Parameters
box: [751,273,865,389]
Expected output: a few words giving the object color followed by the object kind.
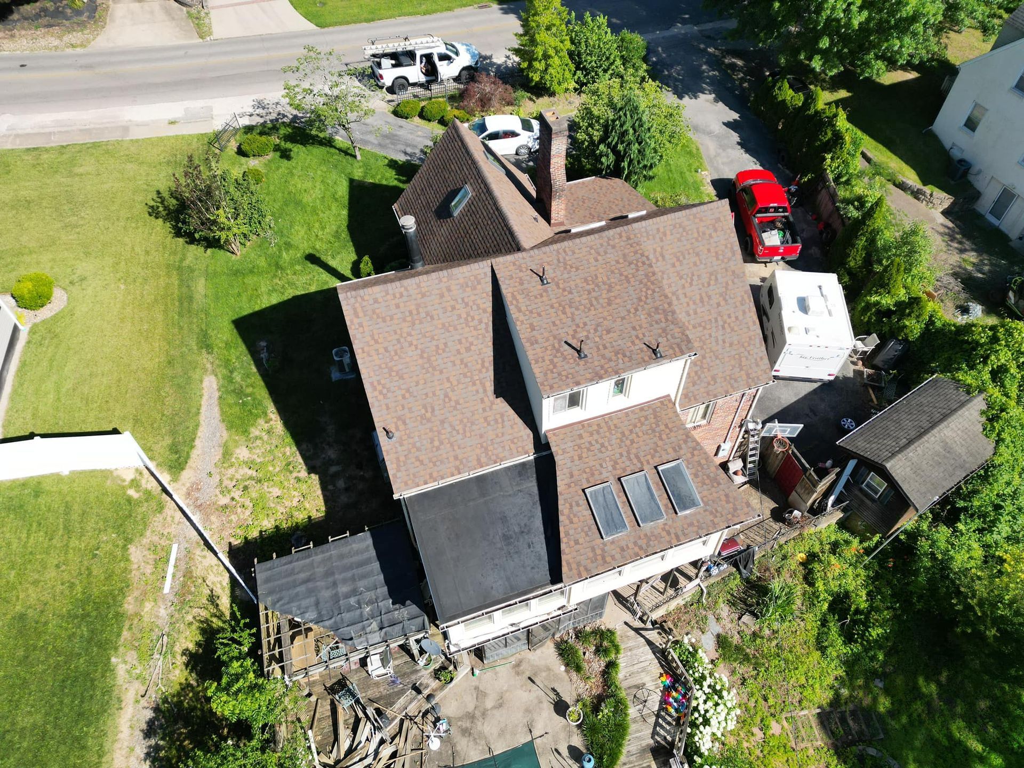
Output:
white vehicle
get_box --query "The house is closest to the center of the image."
[332,112,778,672]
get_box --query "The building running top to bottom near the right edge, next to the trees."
[918,14,1024,244]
